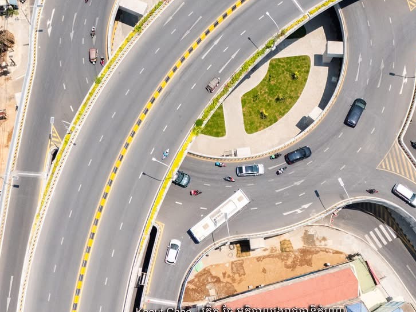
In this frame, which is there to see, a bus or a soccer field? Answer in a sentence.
Looking from above, you can make out a bus.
